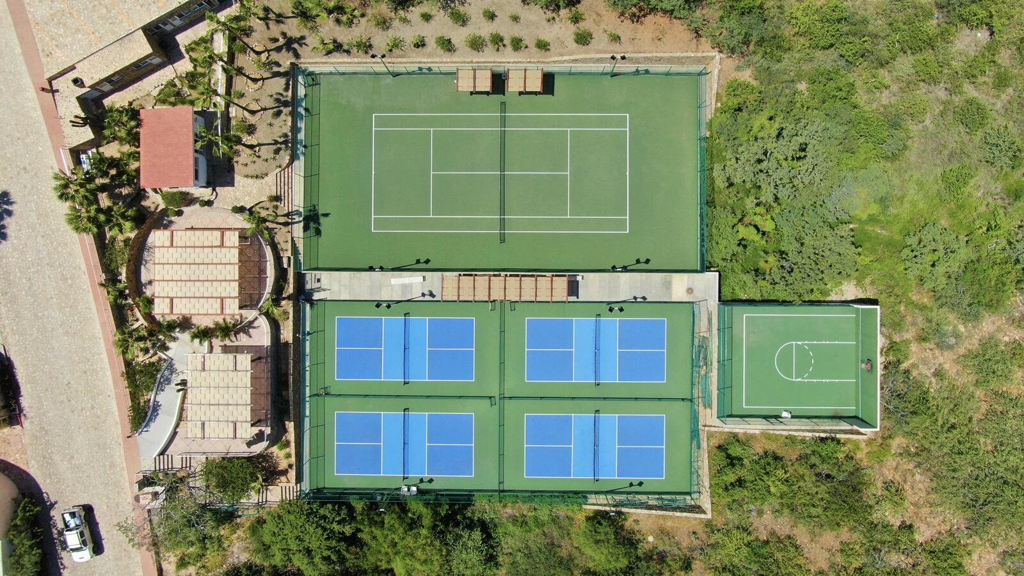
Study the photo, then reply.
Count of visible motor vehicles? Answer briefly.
1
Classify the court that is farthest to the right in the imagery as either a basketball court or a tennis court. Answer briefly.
basketball court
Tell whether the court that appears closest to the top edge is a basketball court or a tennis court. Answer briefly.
tennis court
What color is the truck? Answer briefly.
white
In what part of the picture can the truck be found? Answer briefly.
bottom left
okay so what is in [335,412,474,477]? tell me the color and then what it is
blue sports court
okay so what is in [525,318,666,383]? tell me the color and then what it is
blue sports court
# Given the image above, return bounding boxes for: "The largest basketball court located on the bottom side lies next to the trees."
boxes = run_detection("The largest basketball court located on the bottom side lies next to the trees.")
[718,304,855,420]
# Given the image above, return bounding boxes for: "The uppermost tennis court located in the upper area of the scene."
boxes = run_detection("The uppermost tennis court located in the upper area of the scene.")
[304,74,699,271]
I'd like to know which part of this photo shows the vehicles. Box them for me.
[60,506,97,563]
